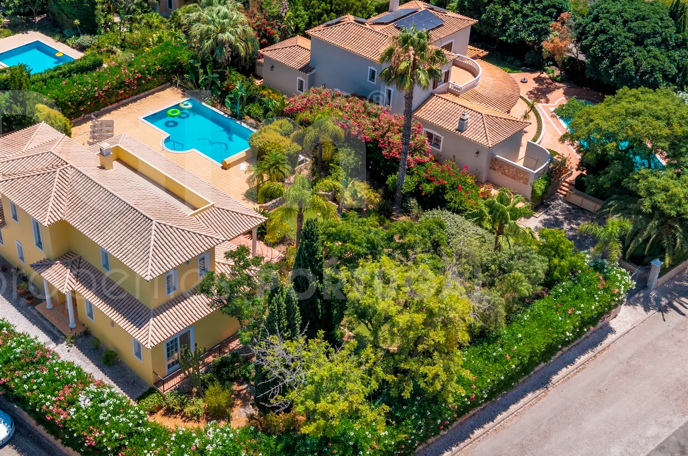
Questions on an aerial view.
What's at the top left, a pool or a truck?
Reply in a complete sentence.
The one visible at the top left is a pool.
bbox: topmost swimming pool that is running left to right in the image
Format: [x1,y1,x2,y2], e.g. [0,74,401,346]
[0,37,77,73]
